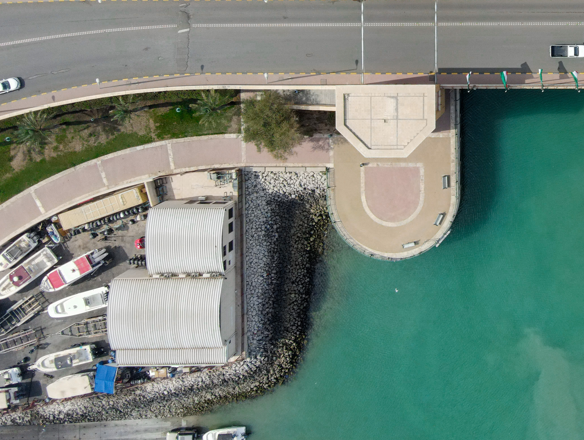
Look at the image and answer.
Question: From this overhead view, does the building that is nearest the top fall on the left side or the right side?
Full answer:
The building that is nearest the top is on the left side of the image.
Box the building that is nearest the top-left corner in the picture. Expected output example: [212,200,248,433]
[58,186,147,237]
